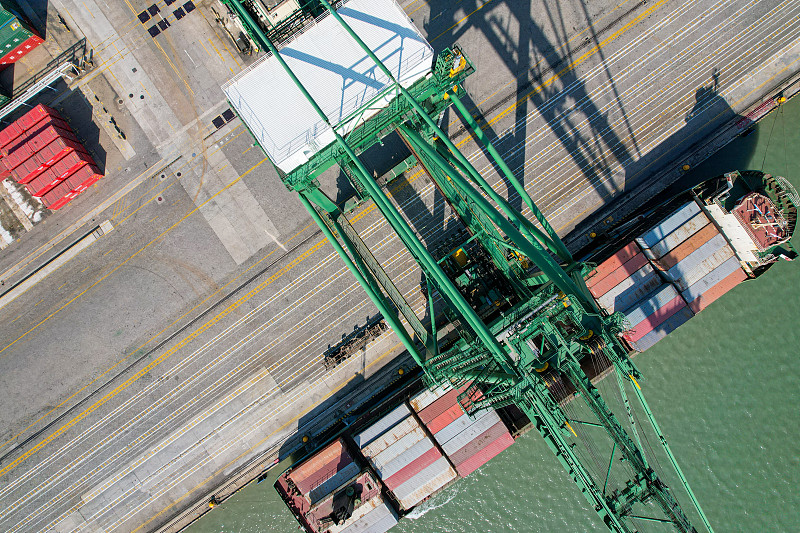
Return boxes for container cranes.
[219,0,715,533]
